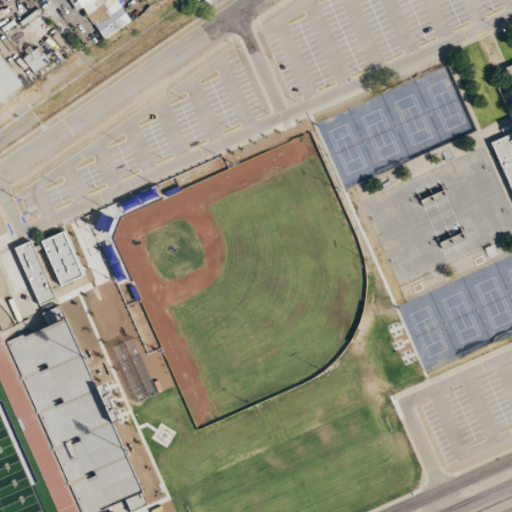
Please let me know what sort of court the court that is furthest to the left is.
tennis court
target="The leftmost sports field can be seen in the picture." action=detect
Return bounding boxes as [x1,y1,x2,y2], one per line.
[0,379,58,512]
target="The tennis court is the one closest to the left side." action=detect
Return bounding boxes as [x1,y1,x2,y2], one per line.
[317,110,378,189]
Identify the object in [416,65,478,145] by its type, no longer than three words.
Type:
tennis court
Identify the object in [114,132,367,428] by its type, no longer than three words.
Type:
baseball field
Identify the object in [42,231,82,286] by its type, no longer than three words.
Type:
building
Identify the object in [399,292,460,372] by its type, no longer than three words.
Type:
tennis court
